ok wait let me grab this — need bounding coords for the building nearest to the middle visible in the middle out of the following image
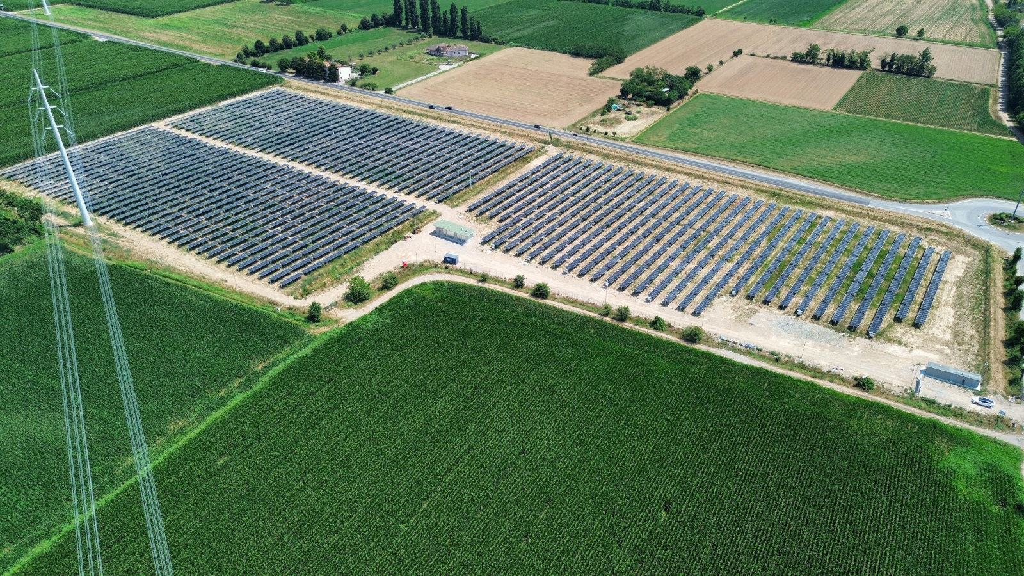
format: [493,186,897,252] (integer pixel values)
[433,219,477,245]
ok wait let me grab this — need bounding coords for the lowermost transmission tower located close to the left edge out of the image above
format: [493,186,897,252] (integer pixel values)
[28,69,94,227]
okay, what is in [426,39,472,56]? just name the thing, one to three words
house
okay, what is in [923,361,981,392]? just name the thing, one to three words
building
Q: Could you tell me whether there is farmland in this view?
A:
Yes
